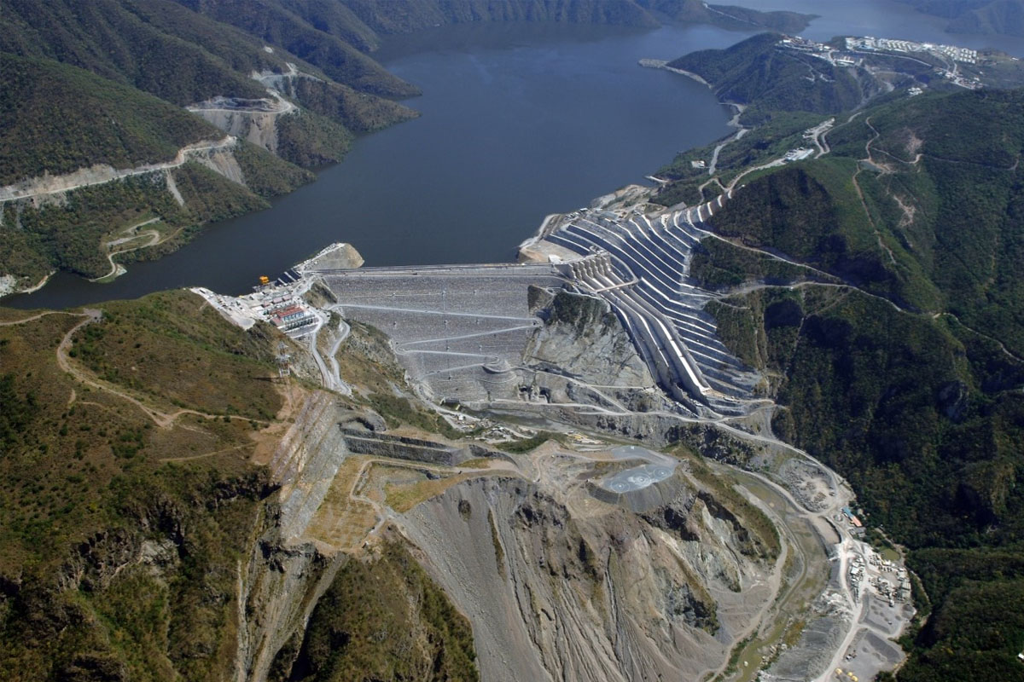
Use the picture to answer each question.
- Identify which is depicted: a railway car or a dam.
dam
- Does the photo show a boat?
No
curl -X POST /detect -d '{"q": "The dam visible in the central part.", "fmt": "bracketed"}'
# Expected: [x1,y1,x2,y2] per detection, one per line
[312,264,567,412]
